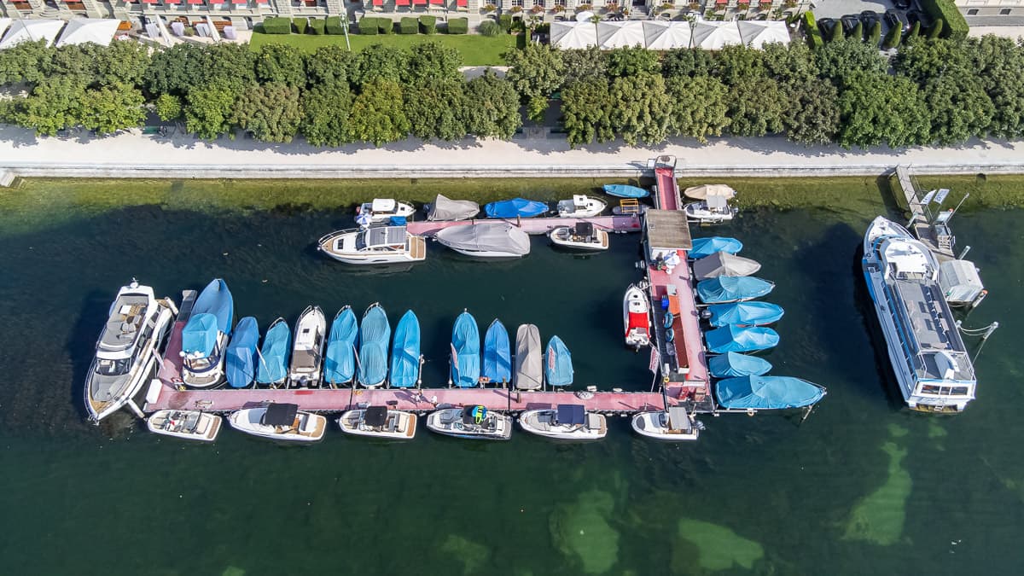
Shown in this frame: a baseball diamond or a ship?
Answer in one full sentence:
The image shows a ship.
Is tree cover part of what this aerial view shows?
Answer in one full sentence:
Yes, there's tree cover in this view.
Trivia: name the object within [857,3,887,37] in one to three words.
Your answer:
car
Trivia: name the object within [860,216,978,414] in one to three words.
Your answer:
ship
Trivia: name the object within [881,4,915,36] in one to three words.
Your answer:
car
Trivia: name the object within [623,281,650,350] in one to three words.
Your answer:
boat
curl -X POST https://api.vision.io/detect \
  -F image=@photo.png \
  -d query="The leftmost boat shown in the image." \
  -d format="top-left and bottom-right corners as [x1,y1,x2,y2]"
[86,273,180,427]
